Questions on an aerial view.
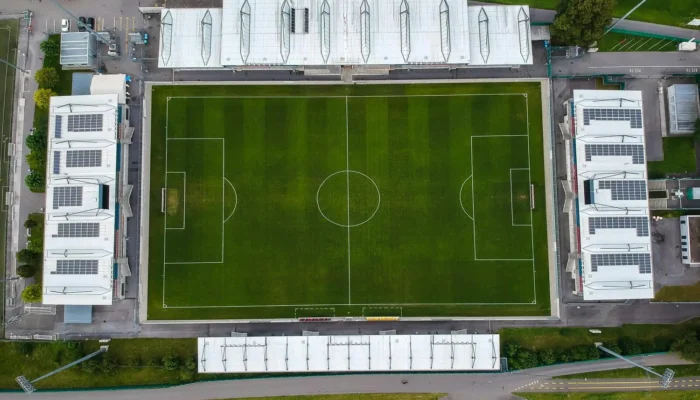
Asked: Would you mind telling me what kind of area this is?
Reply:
sports ground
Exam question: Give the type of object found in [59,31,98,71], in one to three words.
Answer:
shed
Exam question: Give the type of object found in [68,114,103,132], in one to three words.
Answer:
solar array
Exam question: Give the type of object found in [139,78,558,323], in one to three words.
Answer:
soccer field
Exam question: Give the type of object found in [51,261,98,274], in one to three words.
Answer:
solar array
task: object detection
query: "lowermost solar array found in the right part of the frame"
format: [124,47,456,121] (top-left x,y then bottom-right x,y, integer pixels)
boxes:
[591,254,651,273]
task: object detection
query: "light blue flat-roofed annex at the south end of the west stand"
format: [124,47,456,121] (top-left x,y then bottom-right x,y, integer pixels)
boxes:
[64,305,99,323]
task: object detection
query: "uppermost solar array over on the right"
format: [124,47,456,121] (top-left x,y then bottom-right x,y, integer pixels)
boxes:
[584,109,642,128]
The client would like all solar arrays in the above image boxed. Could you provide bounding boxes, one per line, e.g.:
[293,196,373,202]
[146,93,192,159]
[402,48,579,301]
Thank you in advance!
[589,217,648,236]
[586,144,644,163]
[68,114,103,132]
[54,152,59,174]
[53,187,82,209]
[584,109,642,128]
[600,181,646,200]
[66,151,101,167]
[52,224,99,237]
[591,254,651,273]
[51,261,98,274]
